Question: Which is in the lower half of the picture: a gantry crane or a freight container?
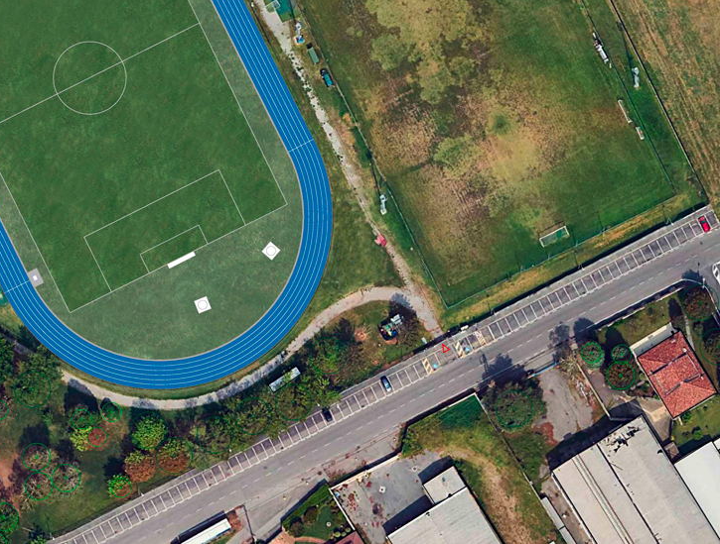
freight container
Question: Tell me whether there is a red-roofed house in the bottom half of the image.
Yes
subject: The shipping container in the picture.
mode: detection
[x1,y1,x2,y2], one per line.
[270,366,301,392]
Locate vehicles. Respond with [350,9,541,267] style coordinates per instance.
[321,70,333,87]
[699,216,711,232]
[322,407,334,423]
[380,375,392,392]
[187,518,233,544]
